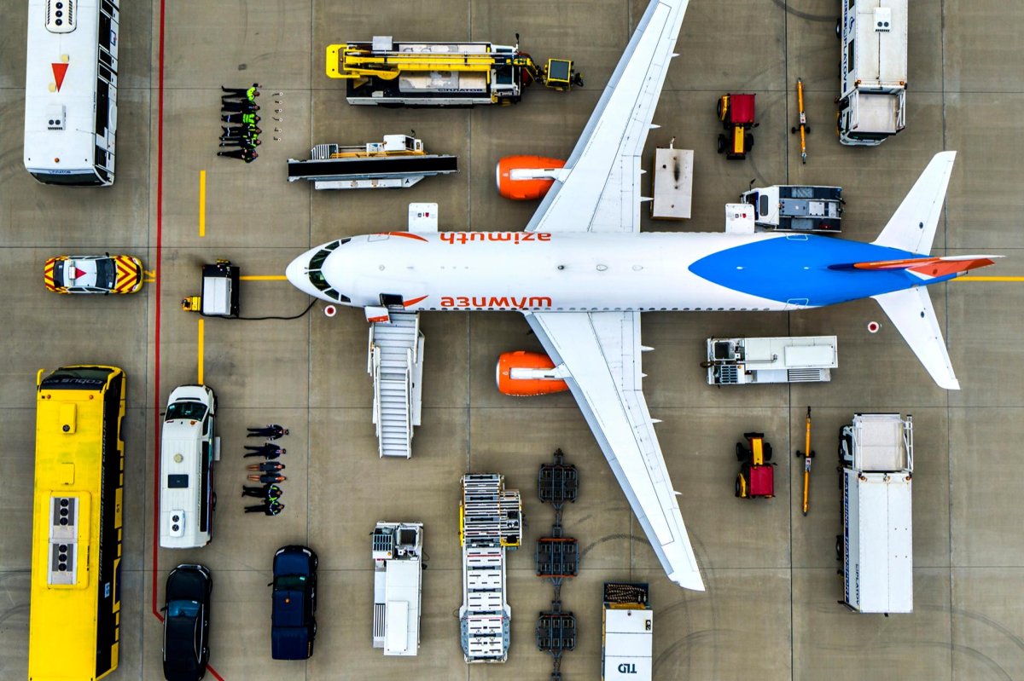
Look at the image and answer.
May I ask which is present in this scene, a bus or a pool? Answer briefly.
bus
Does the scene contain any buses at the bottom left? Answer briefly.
Yes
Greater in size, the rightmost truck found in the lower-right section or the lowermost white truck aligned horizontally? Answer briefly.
the rightmost truck found in the lower-right section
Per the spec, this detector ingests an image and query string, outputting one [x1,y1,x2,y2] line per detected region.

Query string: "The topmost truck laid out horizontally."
[326,31,584,106]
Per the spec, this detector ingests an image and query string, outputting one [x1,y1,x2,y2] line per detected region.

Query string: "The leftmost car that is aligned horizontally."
[43,251,144,297]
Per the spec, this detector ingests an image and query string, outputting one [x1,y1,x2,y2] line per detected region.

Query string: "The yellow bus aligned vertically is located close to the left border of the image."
[29,361,127,681]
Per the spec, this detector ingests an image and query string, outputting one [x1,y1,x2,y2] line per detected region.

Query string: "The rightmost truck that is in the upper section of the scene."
[833,0,908,145]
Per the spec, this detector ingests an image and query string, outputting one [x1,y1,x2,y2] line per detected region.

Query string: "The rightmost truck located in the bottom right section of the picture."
[835,411,913,619]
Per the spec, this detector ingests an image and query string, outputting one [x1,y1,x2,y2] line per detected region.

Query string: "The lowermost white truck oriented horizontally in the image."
[700,336,837,392]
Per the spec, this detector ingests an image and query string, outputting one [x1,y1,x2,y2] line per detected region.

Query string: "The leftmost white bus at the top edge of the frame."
[26,0,117,187]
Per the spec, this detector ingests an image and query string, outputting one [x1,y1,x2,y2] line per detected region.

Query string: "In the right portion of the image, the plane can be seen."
[286,0,1004,590]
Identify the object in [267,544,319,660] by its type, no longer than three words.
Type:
truck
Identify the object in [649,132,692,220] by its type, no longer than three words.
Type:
trailer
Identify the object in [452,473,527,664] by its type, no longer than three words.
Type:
work vehicle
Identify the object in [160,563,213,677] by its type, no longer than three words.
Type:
car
